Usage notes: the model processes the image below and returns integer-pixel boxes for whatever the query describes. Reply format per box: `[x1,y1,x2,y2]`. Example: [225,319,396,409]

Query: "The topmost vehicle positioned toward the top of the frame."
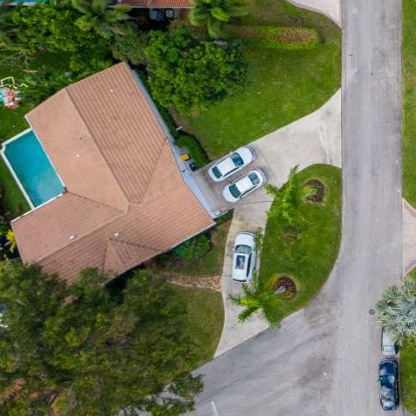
[206,145,257,183]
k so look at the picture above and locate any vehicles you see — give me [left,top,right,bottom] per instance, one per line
[220,169,270,203]
[230,231,257,281]
[376,358,400,411]
[375,305,400,355]
[206,145,257,183]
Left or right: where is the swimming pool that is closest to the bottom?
left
